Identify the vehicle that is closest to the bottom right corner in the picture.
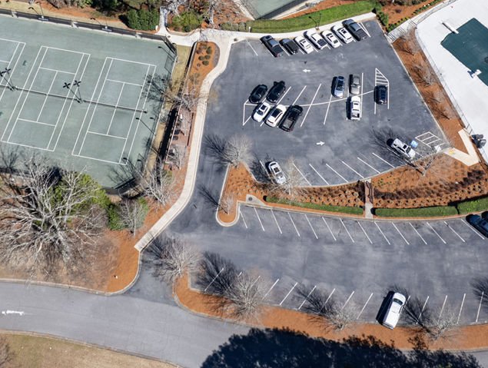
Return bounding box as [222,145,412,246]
[384,293,405,328]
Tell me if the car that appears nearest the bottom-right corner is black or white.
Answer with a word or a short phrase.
white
